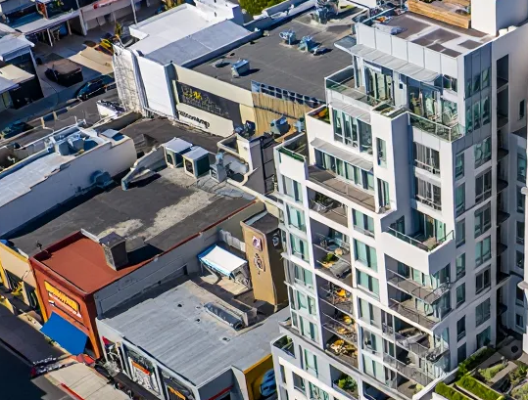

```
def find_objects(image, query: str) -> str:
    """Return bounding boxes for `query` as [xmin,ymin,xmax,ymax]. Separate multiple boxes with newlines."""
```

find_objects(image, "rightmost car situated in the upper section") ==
[80,79,116,96]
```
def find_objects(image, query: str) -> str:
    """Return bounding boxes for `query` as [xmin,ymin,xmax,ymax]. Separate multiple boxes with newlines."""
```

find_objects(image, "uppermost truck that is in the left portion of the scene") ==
[44,56,82,78]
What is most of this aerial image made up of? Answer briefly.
buildings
